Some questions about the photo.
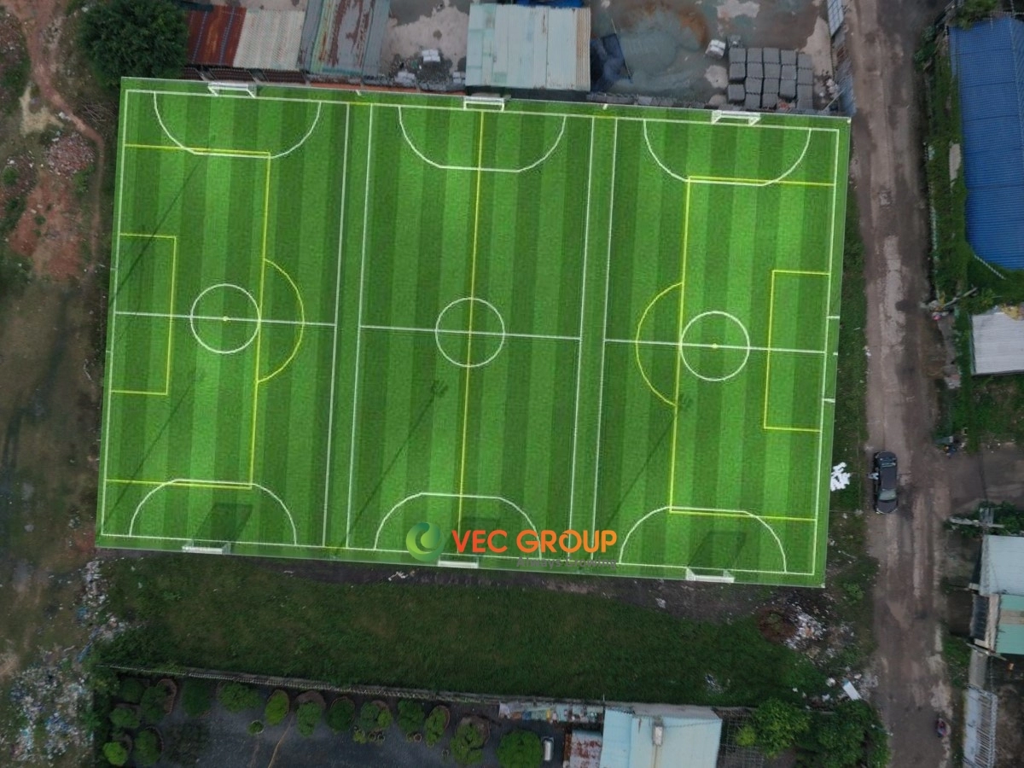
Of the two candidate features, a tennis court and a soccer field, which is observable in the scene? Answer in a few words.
soccer field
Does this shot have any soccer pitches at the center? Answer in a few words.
Yes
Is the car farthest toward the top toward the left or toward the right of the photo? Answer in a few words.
right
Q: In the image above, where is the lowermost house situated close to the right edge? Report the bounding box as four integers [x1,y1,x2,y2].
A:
[960,589,1024,653]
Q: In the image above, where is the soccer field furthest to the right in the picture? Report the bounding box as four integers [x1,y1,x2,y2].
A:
[580,104,851,587]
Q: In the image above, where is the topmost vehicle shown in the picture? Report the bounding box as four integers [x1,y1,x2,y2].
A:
[870,452,904,512]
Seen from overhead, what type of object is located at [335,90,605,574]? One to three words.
soccer field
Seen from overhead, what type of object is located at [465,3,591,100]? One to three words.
shed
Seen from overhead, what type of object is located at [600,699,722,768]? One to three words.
house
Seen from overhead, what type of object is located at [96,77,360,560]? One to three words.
soccer field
